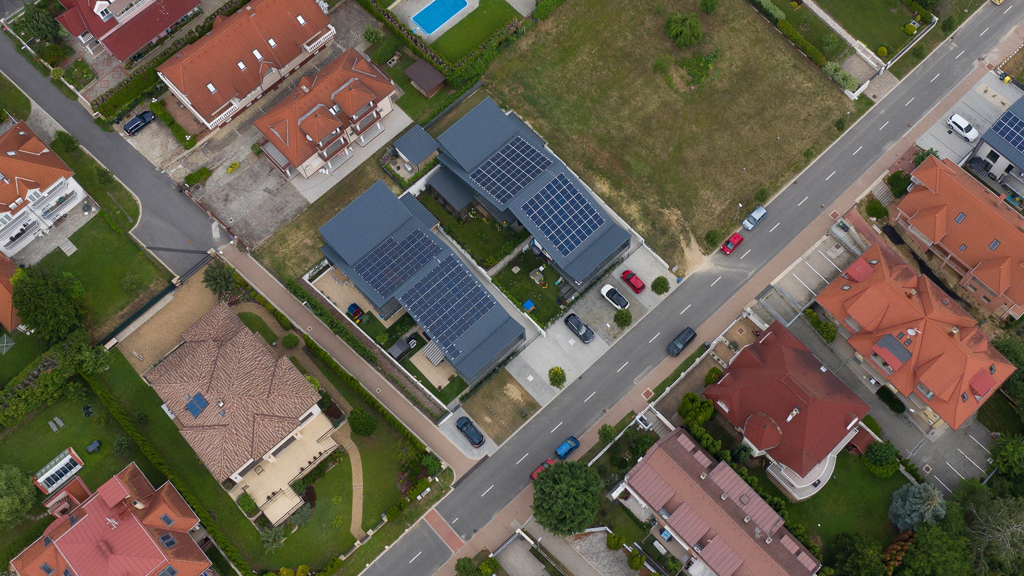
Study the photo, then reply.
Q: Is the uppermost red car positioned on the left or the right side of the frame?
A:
right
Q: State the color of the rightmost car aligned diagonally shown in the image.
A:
white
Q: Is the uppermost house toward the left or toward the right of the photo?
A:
left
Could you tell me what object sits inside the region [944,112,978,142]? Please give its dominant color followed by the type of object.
white car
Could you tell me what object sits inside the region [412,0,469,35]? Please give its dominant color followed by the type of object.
blue swimming pool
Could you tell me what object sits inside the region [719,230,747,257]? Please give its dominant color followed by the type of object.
red car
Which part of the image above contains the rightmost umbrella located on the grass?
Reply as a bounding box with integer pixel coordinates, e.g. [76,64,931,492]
[529,245,544,258]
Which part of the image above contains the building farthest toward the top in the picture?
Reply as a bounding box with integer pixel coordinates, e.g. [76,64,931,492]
[56,0,203,65]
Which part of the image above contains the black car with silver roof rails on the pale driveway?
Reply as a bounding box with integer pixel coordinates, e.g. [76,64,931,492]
[562,310,597,344]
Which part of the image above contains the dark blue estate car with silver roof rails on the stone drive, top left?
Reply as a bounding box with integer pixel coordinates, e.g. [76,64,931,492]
[122,112,156,135]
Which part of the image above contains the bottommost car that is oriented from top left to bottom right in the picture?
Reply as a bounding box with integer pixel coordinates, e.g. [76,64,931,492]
[454,416,487,450]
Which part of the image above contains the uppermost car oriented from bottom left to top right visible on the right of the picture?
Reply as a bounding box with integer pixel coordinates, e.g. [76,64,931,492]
[741,204,770,232]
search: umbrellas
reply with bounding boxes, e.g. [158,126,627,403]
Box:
[529,245,544,258]
[969,154,989,173]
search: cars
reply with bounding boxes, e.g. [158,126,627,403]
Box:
[562,310,597,344]
[454,416,487,450]
[719,230,747,257]
[552,435,581,462]
[944,112,978,142]
[741,204,770,232]
[619,269,649,296]
[599,284,632,310]
[665,324,700,357]
[122,112,156,135]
